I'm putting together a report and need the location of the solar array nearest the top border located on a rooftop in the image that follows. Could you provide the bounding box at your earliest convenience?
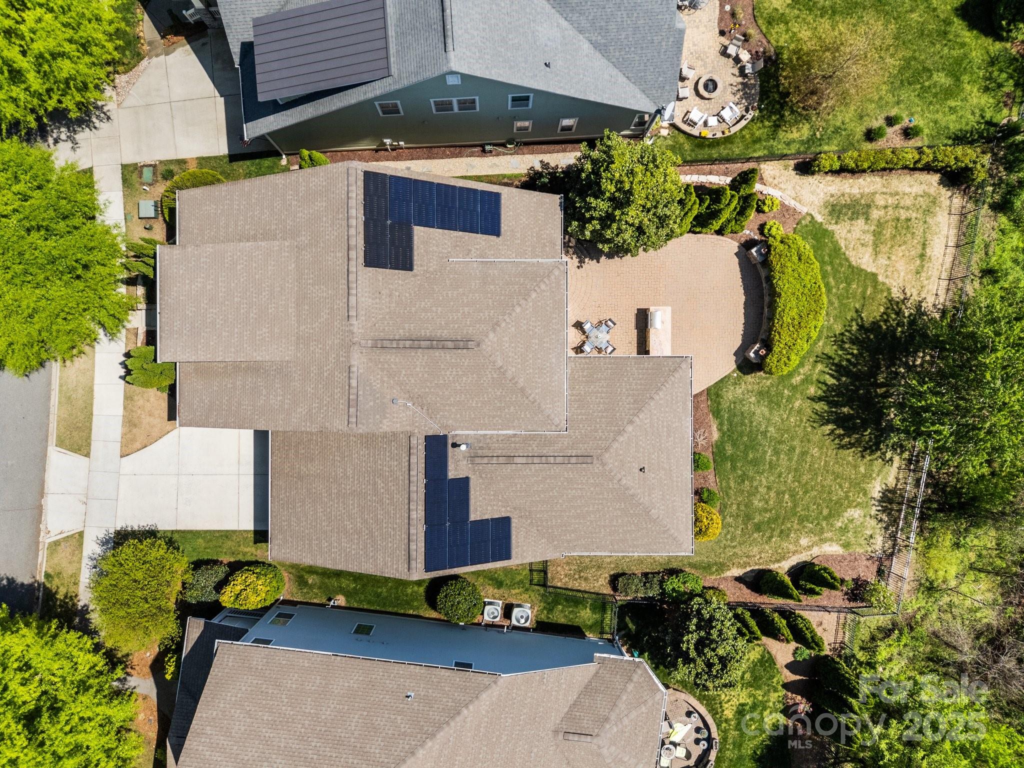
[362,171,503,271]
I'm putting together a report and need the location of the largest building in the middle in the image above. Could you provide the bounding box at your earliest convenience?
[154,160,696,580]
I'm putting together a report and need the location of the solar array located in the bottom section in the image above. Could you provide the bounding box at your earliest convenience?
[391,398,514,572]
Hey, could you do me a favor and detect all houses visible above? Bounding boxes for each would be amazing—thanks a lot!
[154,160,696,580]
[182,0,687,155]
[164,596,670,768]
